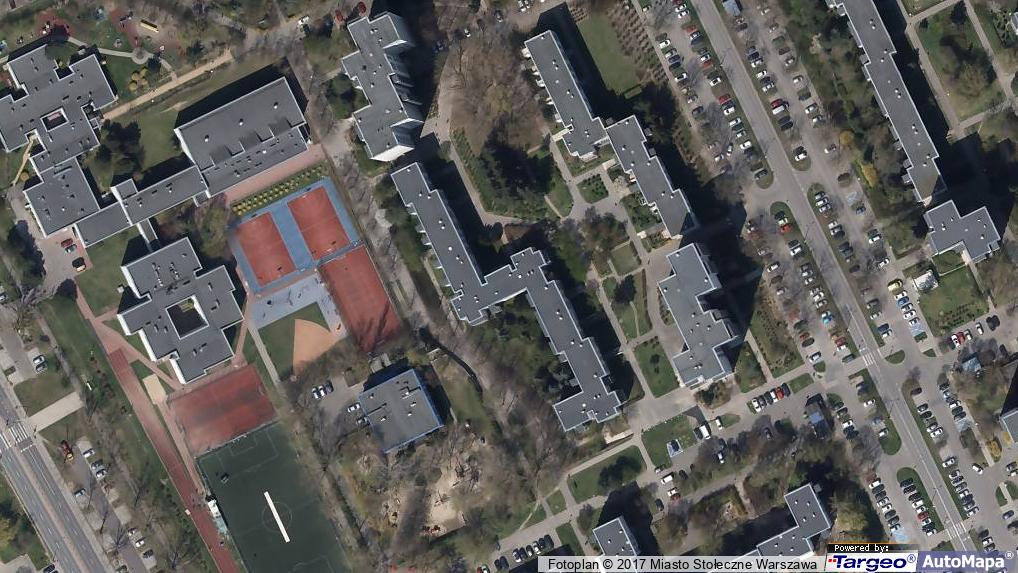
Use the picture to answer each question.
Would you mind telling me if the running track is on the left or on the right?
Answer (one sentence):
It is on the left.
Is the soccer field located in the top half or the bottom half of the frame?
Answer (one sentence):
The soccer field sits in the bottom half of the picture.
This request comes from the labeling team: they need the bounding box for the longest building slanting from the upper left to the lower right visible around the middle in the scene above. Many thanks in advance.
[392,162,624,435]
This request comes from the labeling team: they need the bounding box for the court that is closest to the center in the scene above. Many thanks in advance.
[318,245,405,352]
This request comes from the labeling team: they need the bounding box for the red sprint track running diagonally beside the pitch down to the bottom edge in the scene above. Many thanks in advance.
[108,349,236,573]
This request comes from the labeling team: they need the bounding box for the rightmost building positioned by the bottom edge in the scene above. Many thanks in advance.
[758,484,832,573]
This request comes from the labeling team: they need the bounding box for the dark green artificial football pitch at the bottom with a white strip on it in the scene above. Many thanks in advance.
[197,421,355,573]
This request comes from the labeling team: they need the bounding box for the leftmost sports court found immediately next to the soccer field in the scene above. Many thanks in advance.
[168,364,276,455]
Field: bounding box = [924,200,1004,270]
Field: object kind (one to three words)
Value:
building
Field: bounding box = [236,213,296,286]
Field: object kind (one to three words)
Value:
basketball court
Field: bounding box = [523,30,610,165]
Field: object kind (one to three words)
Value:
building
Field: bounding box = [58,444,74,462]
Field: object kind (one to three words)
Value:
vehicle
